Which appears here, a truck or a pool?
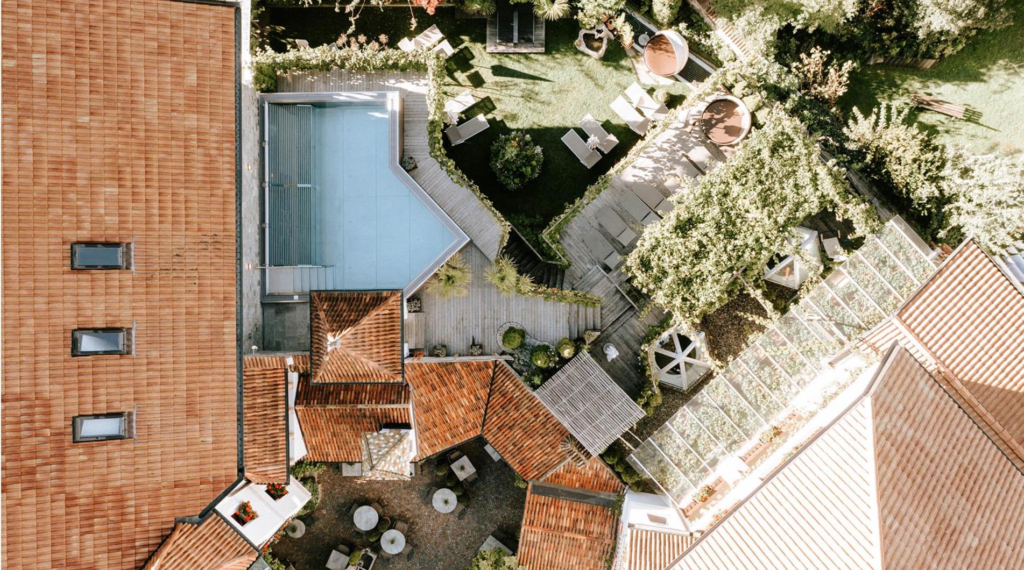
pool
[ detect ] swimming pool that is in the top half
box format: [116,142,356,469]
[257,92,472,302]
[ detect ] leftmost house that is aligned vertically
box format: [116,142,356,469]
[0,0,245,570]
